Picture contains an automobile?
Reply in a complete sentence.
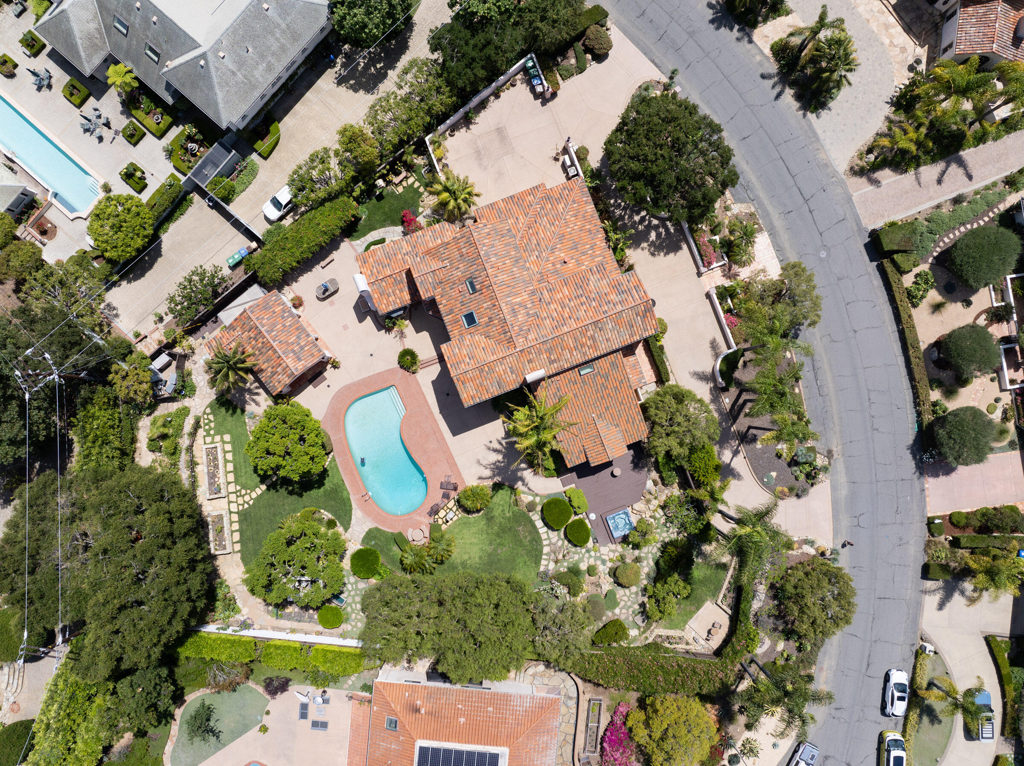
Yes, the picture does show an automobile.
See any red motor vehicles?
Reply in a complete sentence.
No, no red motor vehicle can be seen from above.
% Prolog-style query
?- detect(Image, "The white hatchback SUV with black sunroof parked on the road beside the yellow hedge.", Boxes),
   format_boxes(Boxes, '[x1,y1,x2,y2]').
[882,669,910,718]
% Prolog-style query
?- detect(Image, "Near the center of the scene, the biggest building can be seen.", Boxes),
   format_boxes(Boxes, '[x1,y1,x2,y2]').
[351,176,659,469]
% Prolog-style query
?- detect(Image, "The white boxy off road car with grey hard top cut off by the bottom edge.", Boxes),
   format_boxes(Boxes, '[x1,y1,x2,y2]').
[784,737,819,766]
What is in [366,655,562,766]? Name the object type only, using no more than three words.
house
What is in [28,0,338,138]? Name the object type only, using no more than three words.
house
